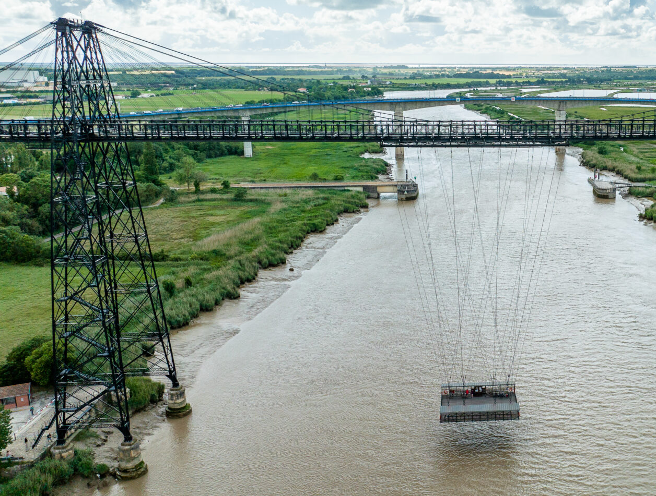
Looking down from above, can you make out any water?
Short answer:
Yes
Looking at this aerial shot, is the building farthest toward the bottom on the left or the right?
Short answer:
left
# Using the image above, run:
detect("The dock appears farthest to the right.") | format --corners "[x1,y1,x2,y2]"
[587,174,616,202]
